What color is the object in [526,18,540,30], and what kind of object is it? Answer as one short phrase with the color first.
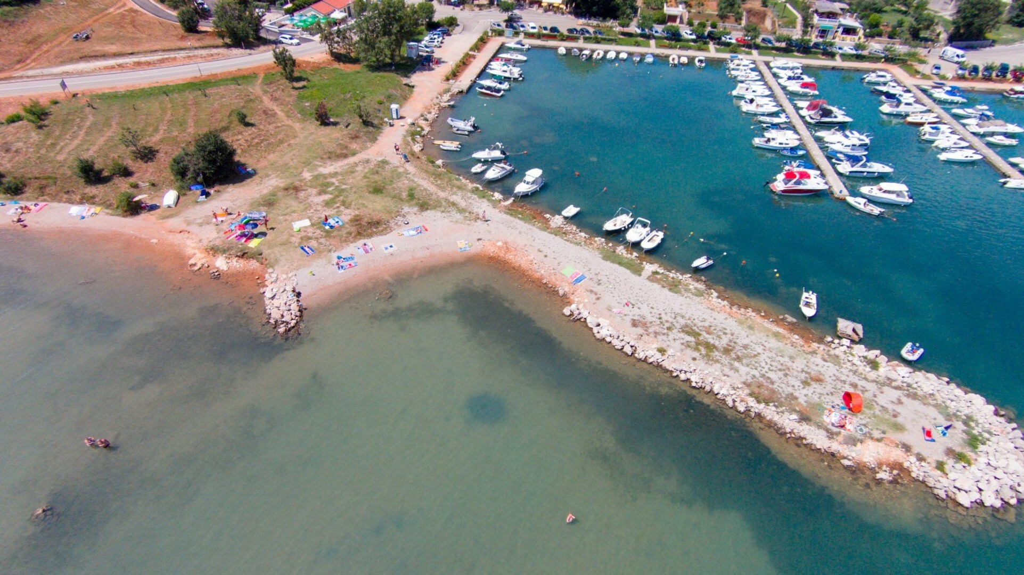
white vehicle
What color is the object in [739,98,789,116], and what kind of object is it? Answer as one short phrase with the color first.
white boat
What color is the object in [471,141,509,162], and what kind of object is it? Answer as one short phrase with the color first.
white boat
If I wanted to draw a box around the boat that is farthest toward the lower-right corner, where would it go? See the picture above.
[901,342,926,360]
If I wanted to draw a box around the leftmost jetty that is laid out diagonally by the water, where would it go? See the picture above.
[757,62,849,203]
